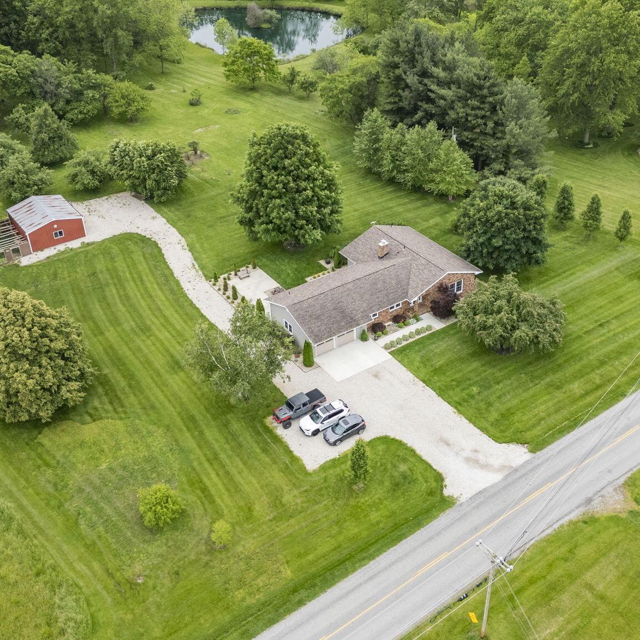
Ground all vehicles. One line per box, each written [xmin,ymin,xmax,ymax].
[321,412,367,446]
[296,399,347,437]
[271,390,326,428]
